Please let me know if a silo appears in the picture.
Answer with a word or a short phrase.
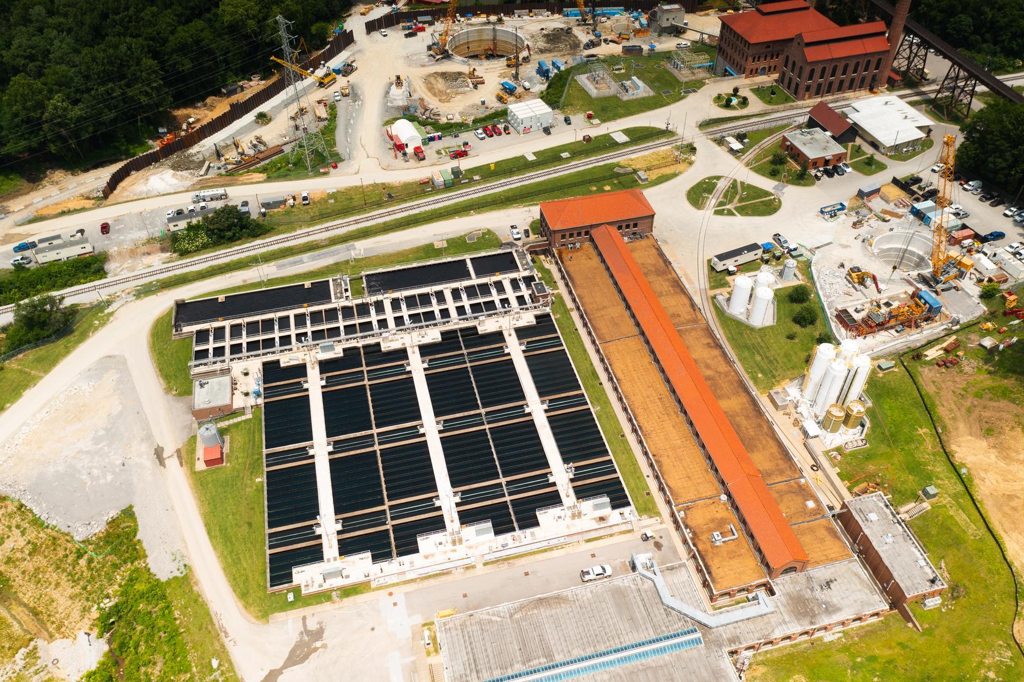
Yes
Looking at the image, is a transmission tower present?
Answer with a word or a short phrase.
Yes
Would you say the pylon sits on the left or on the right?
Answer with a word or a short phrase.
left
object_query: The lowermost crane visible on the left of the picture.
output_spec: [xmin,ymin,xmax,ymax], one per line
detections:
[270,57,345,86]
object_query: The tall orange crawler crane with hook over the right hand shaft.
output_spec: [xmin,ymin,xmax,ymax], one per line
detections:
[893,133,978,294]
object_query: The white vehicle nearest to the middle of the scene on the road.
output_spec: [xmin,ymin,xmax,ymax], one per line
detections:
[509,225,521,239]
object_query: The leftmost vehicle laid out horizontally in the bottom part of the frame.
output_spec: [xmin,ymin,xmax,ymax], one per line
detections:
[580,565,613,581]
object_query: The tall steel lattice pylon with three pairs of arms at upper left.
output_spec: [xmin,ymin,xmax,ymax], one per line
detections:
[264,16,329,174]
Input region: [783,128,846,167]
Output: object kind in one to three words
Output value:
building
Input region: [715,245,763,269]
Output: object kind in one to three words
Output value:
trailer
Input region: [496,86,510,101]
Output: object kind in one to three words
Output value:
work vehicle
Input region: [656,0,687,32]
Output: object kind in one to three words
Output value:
house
